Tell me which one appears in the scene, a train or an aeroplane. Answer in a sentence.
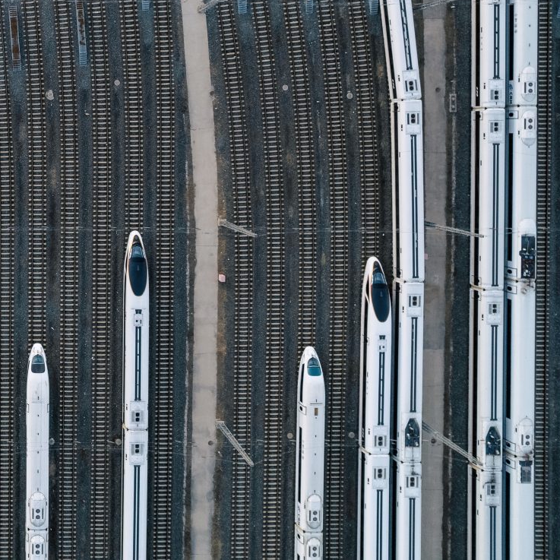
The one in the frame is a train.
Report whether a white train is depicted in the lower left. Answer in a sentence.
Yes, I can see a white train in the lower left.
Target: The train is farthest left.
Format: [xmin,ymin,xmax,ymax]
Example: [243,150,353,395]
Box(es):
[24,343,49,560]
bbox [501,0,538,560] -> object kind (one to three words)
train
